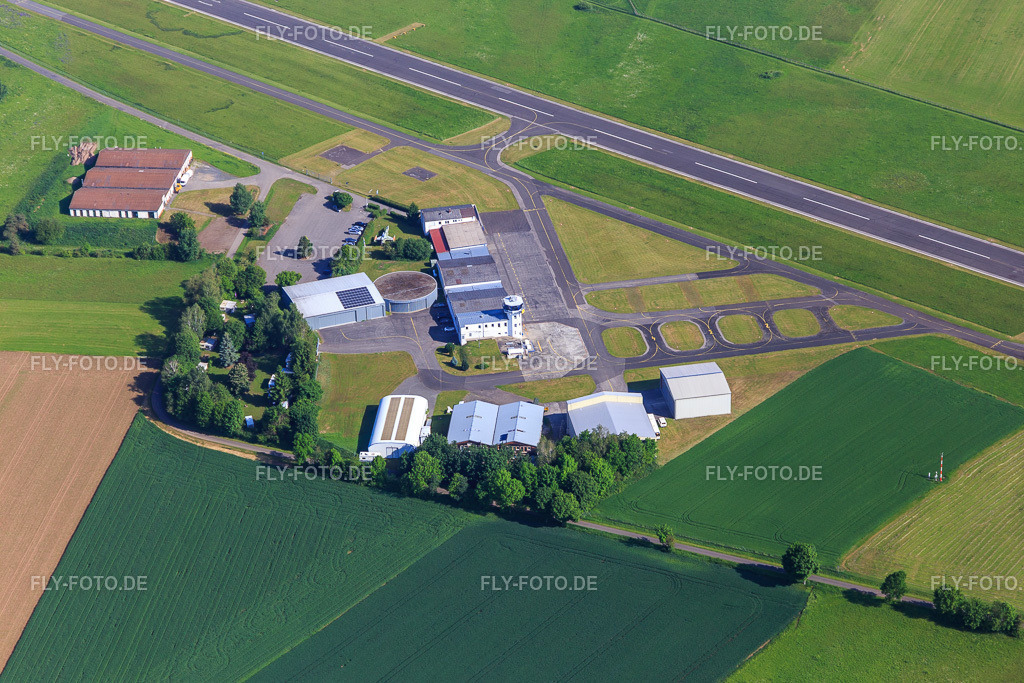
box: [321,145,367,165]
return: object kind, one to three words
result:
helipad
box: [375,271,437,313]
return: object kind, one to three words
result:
hangar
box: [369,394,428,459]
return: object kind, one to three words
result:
hangar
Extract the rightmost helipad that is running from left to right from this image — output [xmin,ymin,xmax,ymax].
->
[403,166,436,181]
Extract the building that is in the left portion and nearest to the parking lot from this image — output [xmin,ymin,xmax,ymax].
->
[285,272,386,329]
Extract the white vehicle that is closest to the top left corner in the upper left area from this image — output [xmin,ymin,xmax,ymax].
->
[180,170,193,187]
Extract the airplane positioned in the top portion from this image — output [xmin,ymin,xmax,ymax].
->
[370,225,398,243]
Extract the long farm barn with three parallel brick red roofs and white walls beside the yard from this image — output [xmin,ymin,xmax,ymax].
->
[69,148,190,218]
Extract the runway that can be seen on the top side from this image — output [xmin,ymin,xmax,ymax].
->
[161,0,1024,289]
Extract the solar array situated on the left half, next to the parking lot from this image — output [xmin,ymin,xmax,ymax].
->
[336,287,373,309]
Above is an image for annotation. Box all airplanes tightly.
[370,225,398,243]
[441,406,453,414]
